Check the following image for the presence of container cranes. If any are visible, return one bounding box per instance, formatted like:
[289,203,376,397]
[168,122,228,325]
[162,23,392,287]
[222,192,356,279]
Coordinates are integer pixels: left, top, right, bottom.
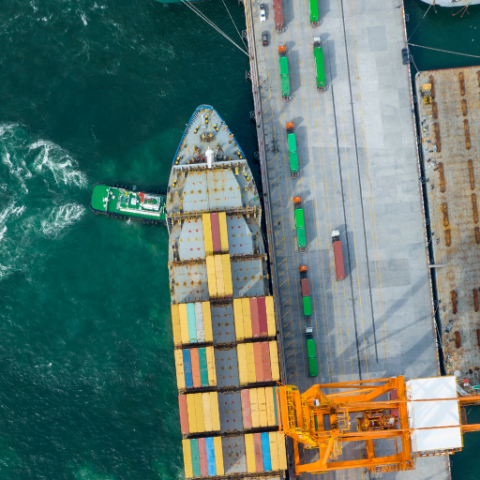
[279,372,480,480]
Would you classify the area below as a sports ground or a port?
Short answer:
port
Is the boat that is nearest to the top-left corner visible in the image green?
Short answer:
Yes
